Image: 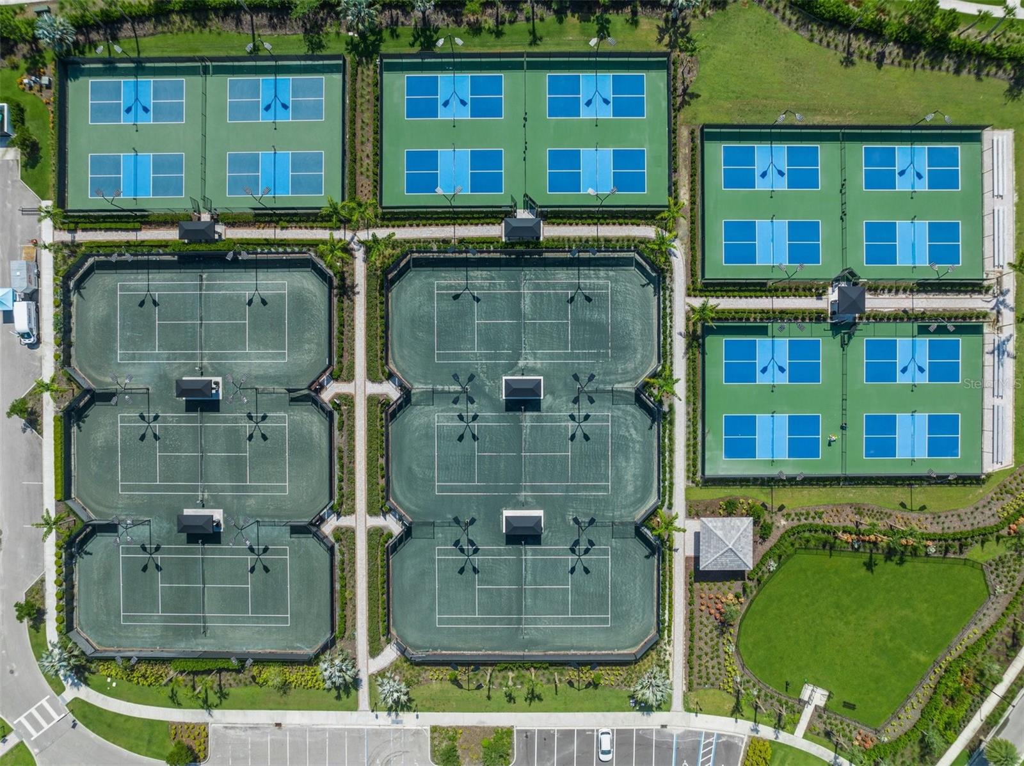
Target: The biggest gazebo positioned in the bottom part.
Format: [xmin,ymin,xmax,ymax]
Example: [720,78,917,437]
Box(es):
[698,516,754,571]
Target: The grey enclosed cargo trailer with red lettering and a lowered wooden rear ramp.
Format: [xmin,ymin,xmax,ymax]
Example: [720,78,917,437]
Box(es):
[13,247,39,300]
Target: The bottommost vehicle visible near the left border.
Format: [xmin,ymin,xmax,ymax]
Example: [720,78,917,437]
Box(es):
[12,300,39,346]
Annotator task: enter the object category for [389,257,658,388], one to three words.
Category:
tennis court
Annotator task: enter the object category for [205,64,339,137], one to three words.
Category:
sports court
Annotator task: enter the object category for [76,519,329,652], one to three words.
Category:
tennis court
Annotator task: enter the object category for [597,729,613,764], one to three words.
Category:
car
